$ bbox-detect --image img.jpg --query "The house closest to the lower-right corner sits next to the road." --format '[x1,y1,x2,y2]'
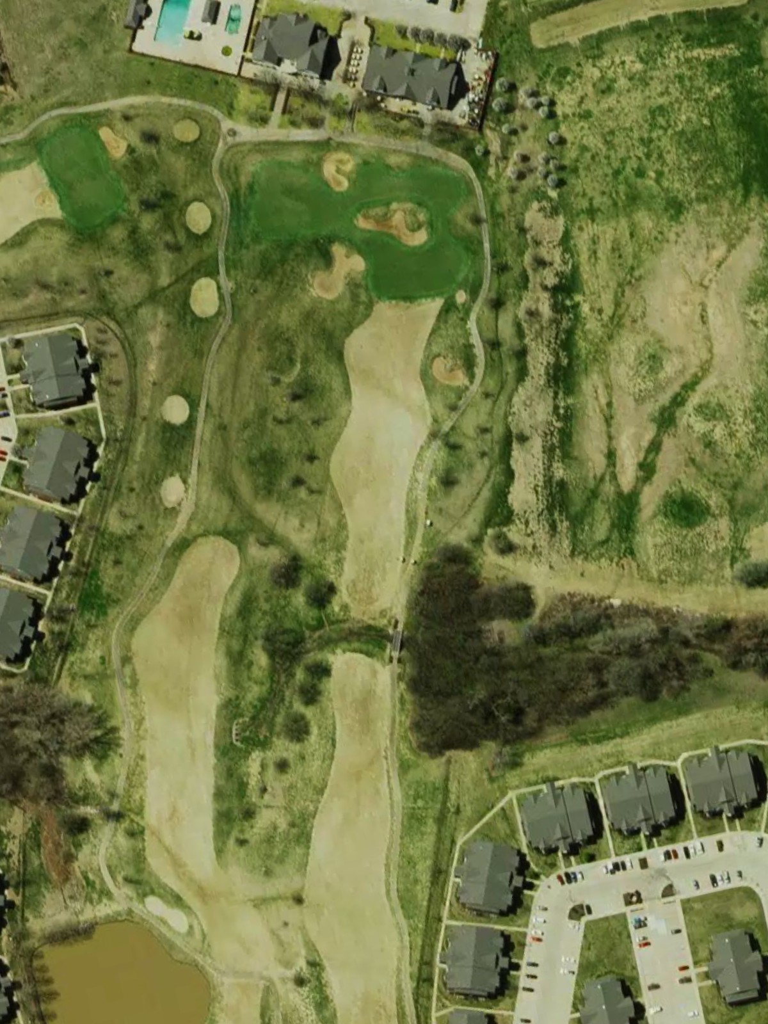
[700,935,768,1004]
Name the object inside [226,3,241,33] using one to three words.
swimming pool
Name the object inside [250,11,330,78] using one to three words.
building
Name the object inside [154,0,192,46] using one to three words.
swimming pool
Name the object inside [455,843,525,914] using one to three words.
house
